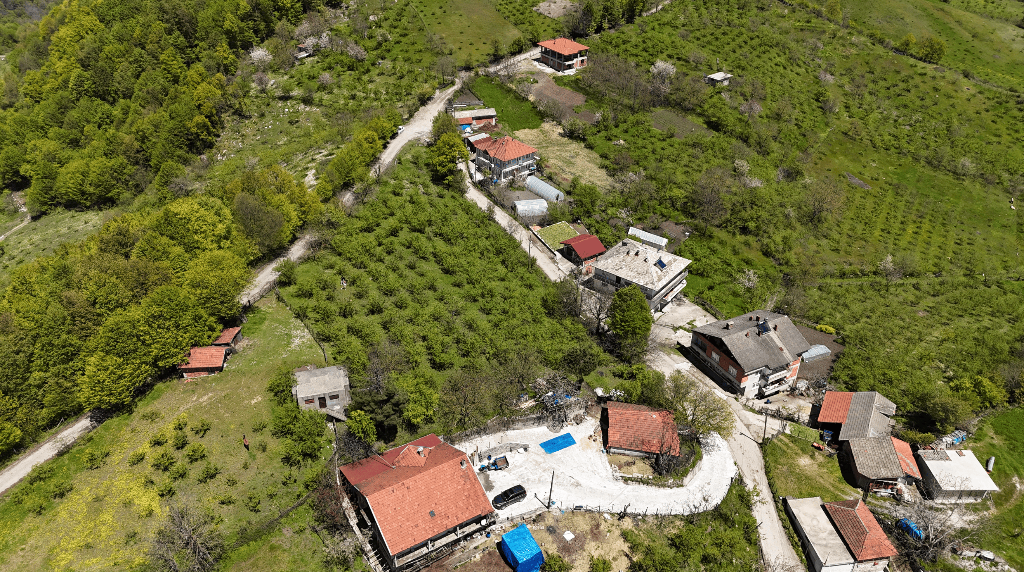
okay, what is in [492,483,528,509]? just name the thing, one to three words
car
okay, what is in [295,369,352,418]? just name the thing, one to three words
shed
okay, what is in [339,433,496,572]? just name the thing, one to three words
house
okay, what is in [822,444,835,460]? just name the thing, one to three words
vehicle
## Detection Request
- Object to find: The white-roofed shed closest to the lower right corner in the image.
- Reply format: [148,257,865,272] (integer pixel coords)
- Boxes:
[917,451,999,504]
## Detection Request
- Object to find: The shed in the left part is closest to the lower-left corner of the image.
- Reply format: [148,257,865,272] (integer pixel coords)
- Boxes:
[181,343,232,378]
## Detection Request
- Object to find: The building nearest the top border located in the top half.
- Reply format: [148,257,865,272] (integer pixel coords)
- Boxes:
[537,33,589,74]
